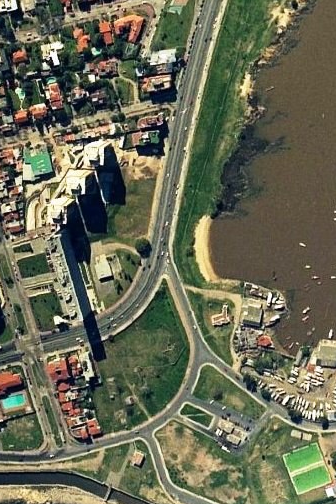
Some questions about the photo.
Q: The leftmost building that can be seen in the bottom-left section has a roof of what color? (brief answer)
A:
red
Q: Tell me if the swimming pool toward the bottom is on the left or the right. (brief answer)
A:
left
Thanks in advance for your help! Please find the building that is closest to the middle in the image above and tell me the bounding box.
[95,253,113,278]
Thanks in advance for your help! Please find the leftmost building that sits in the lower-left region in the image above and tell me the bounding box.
[0,368,23,395]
